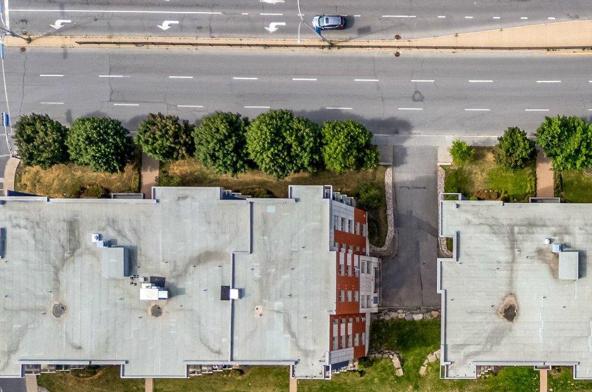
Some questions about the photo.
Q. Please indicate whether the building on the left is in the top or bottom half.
bottom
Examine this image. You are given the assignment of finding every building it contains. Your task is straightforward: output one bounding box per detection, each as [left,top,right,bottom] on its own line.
[437,192,592,379]
[0,186,384,379]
